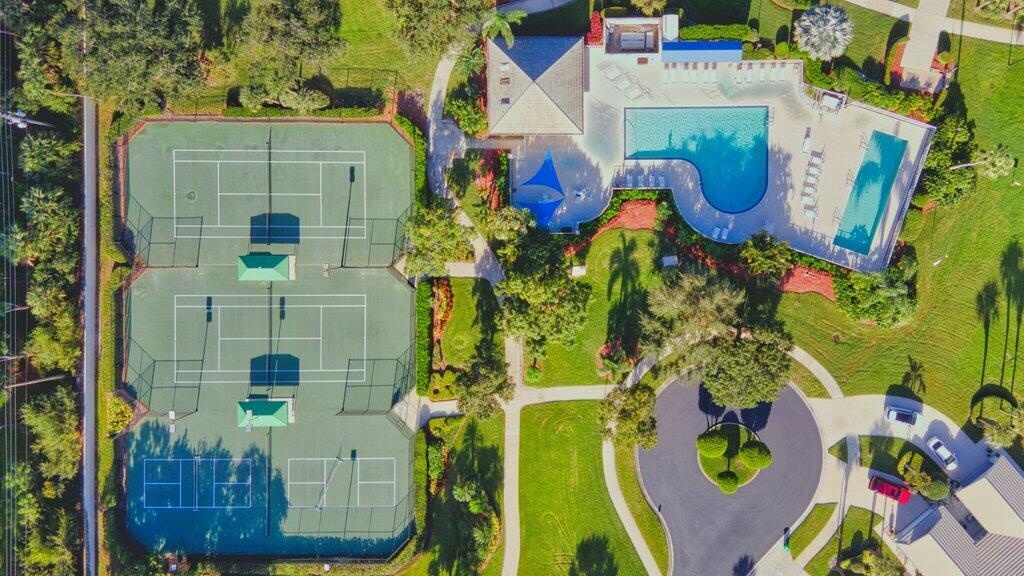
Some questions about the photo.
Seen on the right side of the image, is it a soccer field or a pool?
pool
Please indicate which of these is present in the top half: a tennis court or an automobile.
tennis court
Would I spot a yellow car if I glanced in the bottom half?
No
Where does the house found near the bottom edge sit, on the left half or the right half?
right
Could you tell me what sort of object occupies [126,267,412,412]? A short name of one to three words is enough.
tennis court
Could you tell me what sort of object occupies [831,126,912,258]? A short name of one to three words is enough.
swimming pool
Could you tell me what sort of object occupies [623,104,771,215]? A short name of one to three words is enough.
swimming pool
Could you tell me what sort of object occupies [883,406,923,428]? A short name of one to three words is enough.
car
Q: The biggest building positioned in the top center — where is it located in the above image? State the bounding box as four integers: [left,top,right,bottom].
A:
[487,36,584,137]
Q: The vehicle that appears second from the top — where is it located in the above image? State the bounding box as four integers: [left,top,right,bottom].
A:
[925,435,962,472]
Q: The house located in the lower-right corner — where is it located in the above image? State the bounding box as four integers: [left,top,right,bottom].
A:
[892,456,1024,576]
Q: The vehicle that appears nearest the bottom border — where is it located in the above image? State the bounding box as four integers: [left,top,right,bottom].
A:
[866,476,911,503]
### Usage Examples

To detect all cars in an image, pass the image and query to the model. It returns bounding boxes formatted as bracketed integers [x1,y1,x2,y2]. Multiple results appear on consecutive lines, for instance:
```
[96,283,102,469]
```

[925,435,962,472]
[866,476,911,503]
[883,406,923,428]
